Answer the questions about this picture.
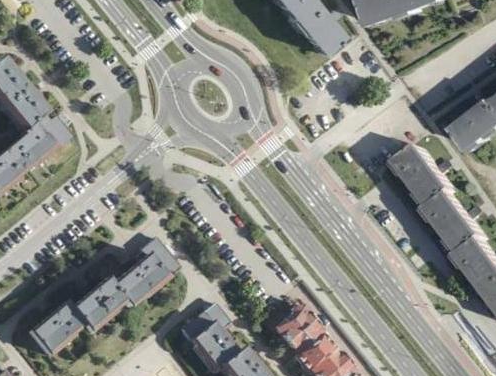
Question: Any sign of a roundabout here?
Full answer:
Yes, the picture does show a roundabout.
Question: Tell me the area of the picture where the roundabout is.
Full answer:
Look in the top portion of the view to spot the roundabout.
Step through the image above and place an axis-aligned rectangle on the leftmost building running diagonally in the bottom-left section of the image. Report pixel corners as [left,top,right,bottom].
[29,239,181,363]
